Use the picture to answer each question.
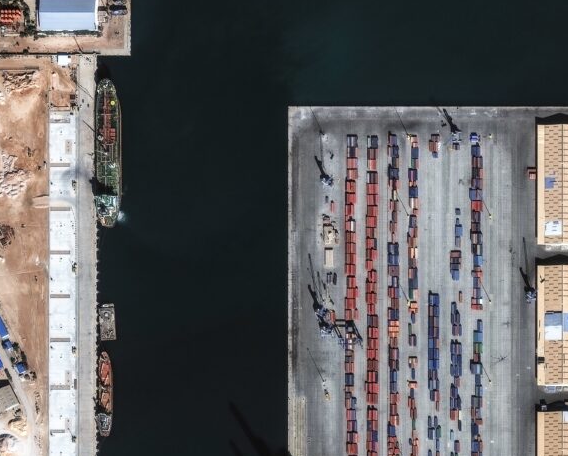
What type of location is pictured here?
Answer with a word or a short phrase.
port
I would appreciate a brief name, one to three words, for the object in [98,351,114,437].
ship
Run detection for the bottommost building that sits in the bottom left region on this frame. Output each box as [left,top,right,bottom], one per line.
[0,383,23,412]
